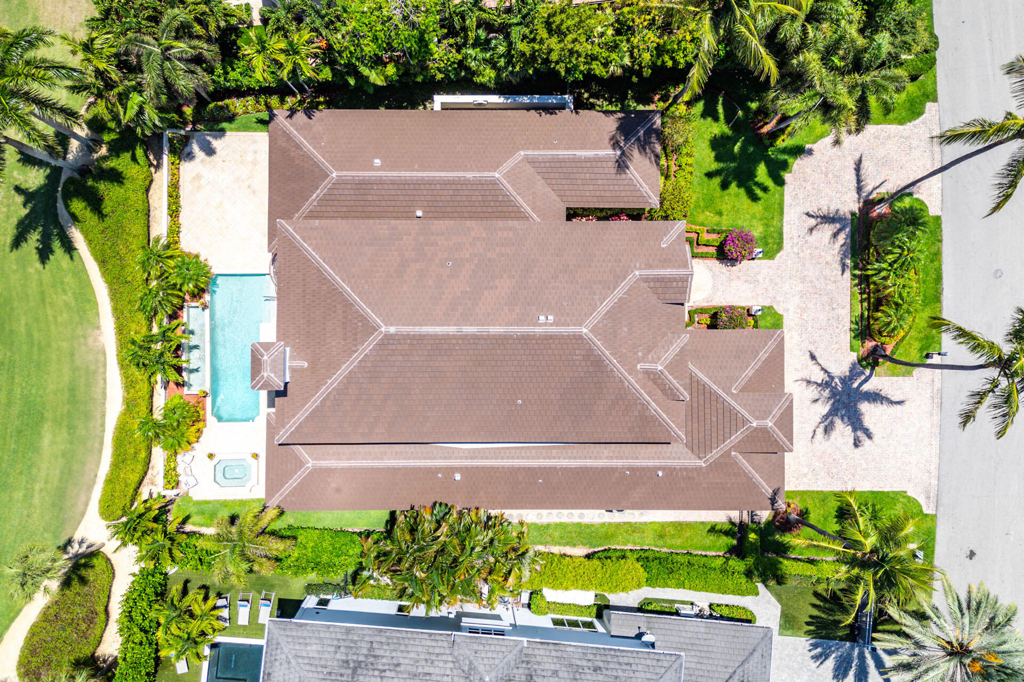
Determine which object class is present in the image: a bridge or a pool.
pool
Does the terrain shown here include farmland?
No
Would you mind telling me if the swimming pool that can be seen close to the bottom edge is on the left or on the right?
left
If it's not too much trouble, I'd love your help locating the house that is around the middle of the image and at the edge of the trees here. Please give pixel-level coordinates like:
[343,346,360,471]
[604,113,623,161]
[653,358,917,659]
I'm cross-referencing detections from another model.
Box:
[249,107,795,513]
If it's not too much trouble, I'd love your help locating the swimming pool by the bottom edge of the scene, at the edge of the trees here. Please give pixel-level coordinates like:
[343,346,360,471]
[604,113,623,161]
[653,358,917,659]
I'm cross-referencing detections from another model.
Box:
[203,638,263,682]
